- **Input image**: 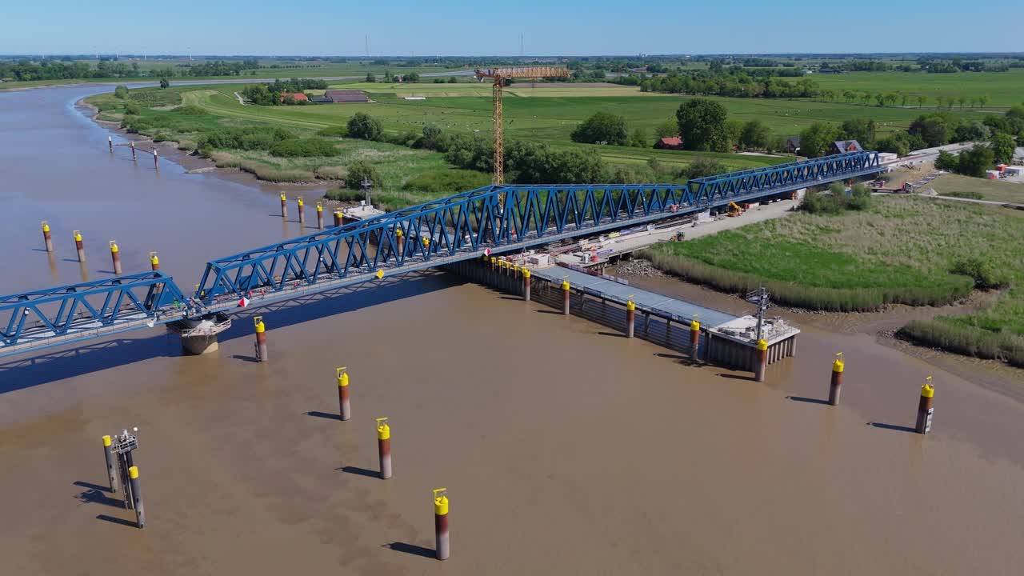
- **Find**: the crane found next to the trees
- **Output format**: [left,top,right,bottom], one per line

[477,65,570,235]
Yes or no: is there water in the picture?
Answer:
Yes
